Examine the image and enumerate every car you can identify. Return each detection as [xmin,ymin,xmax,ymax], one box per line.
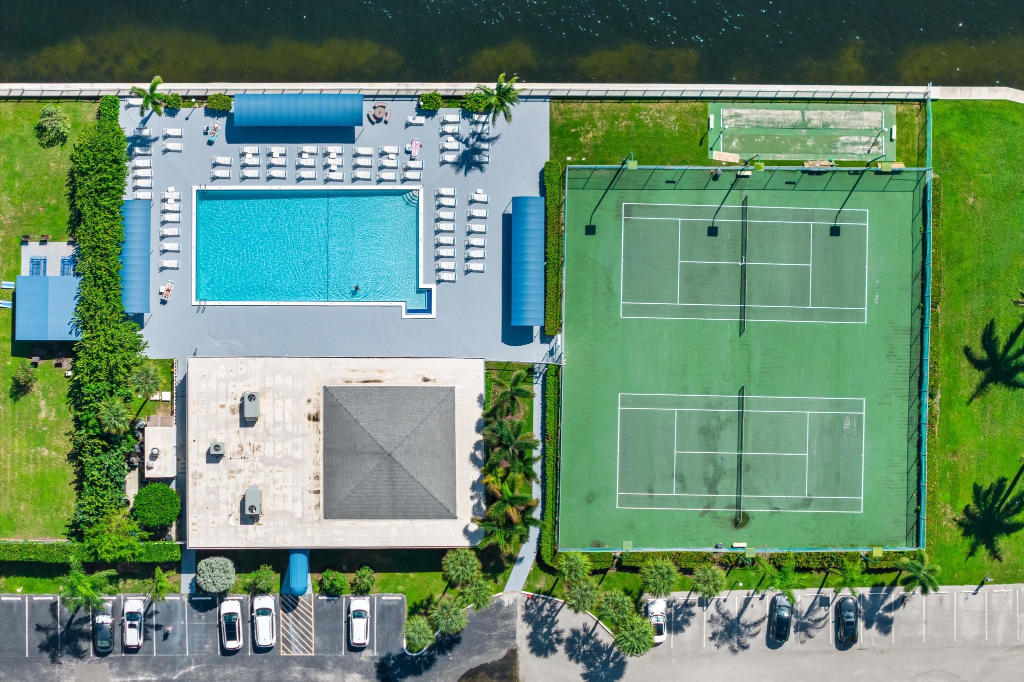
[835,595,859,645]
[218,599,243,650]
[252,594,276,647]
[92,600,116,652]
[770,593,793,643]
[347,596,371,647]
[646,598,669,643]
[121,597,145,649]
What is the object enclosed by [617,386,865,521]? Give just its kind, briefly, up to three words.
tennis court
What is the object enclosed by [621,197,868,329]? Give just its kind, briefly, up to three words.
tennis court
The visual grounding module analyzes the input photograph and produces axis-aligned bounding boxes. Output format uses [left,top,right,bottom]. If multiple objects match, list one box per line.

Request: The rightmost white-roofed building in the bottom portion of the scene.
[186,356,486,549]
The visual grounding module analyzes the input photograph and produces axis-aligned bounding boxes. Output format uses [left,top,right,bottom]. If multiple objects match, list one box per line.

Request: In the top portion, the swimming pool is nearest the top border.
[191,182,436,318]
